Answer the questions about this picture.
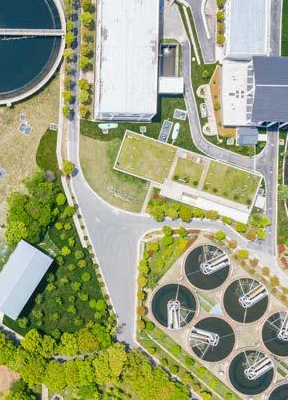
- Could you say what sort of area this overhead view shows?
industrial area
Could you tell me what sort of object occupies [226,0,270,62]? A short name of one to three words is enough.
building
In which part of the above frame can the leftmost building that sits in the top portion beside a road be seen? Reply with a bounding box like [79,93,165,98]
[97,0,160,120]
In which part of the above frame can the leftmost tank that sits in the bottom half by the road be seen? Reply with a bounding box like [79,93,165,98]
[147,280,200,333]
